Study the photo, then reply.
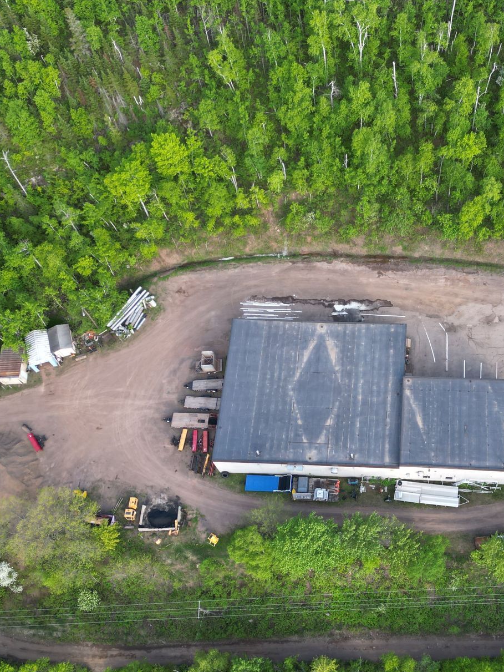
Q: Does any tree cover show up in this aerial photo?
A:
Yes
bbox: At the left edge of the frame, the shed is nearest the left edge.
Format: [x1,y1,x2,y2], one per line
[0,347,29,384]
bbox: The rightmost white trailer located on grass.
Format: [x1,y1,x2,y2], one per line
[394,481,469,508]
